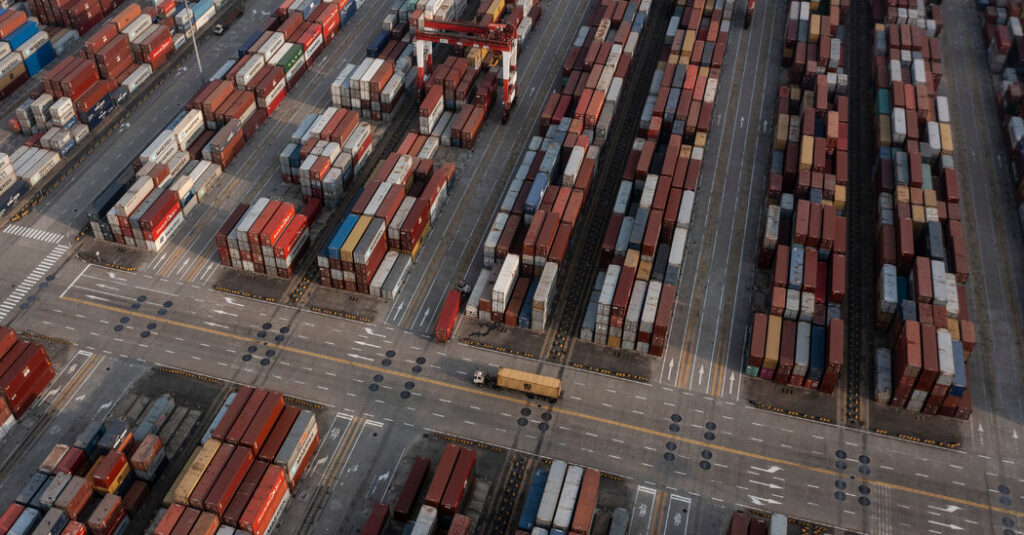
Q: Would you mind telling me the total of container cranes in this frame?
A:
1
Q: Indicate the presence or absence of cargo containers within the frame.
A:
Yes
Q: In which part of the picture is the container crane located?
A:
top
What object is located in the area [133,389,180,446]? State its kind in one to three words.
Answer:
shipping container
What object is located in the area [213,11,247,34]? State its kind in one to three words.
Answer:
truck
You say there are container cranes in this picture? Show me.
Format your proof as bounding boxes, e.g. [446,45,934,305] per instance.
[409,14,520,118]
